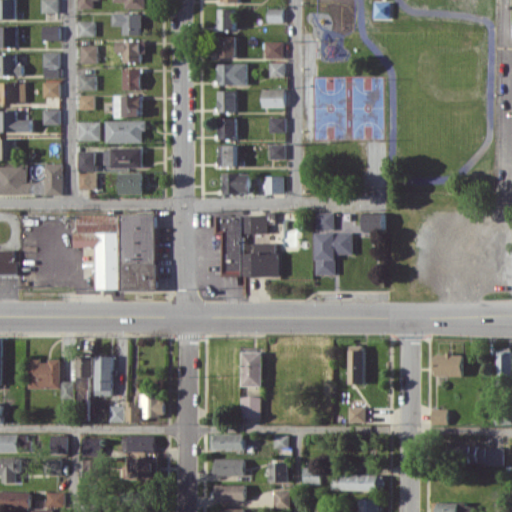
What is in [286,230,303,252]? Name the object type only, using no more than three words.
tent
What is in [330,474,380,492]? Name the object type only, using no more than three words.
house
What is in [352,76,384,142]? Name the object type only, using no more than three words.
basketball court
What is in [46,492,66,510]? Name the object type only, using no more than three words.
building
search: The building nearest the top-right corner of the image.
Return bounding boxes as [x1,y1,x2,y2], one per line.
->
[372,0,396,22]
